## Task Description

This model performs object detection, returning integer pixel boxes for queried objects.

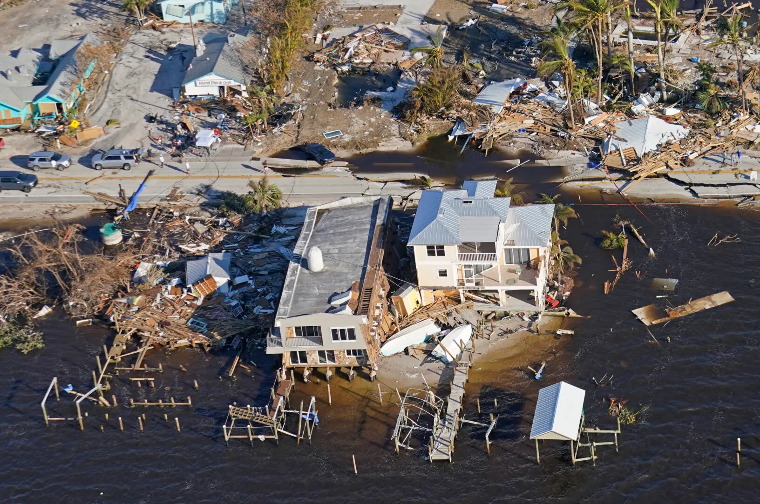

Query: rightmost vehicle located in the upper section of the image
[298,136,338,163]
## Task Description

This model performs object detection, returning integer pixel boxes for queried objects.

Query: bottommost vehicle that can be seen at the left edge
[0,169,41,192]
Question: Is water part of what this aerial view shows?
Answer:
Yes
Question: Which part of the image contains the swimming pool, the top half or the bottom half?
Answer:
top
